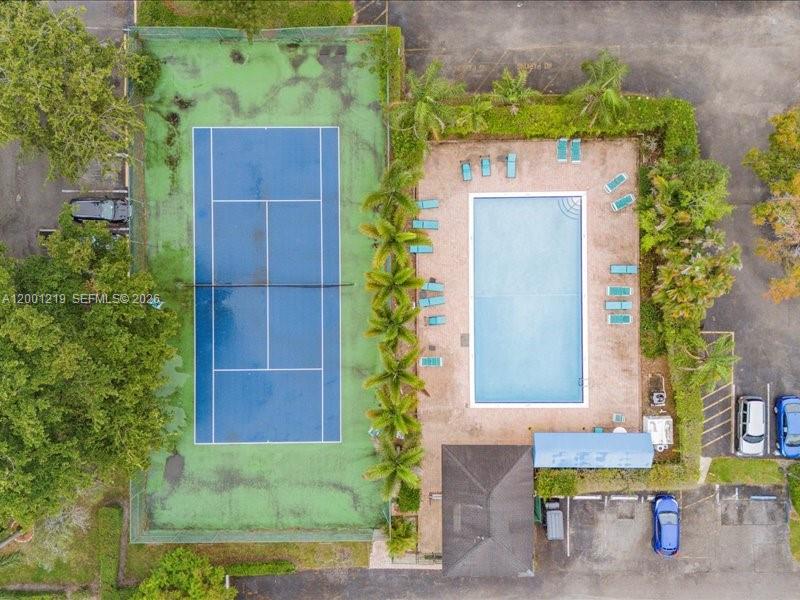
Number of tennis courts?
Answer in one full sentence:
My tally gives 1 tennis court in this photo.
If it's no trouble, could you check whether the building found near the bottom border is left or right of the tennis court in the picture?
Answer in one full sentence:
Relative to the tennis court, the building found near the bottom border lies to the right.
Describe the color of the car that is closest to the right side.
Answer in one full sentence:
The car that is closest to the right side is blue.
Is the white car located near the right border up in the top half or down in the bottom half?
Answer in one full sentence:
The white car located near the right border sits in the bottom half of the picture.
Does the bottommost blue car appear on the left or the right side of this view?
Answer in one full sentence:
The bottommost blue car appears in the right half of the scene.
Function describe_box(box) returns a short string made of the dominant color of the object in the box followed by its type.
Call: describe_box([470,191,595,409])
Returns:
white swimming pool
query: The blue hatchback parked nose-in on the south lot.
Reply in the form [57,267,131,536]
[652,492,684,558]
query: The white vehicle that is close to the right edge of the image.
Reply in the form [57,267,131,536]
[736,395,770,458]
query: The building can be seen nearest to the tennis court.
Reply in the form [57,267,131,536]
[441,445,537,578]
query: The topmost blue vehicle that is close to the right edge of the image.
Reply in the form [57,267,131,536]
[773,395,800,459]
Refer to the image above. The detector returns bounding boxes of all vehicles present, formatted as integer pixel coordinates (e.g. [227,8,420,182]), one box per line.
[66,195,128,225]
[542,498,564,540]
[652,492,684,558]
[736,395,770,458]
[773,395,800,459]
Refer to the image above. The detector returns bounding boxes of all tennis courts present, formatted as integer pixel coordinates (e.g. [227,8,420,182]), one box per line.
[144,39,389,531]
